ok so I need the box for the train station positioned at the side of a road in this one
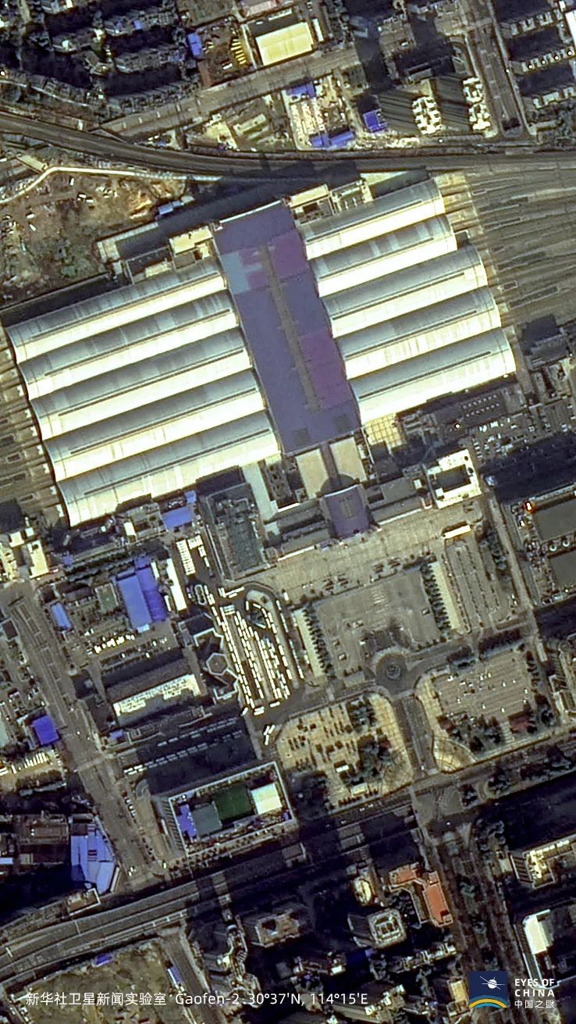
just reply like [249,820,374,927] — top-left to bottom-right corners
[0,166,568,559]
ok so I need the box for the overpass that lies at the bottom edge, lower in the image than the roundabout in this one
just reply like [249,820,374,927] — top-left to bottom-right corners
[0,803,415,978]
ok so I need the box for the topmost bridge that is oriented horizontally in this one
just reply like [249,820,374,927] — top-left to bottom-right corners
[0,113,576,170]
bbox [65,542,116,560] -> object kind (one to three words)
shed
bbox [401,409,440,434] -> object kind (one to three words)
house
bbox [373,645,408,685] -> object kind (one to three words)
roundabout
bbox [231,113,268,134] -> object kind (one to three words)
building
